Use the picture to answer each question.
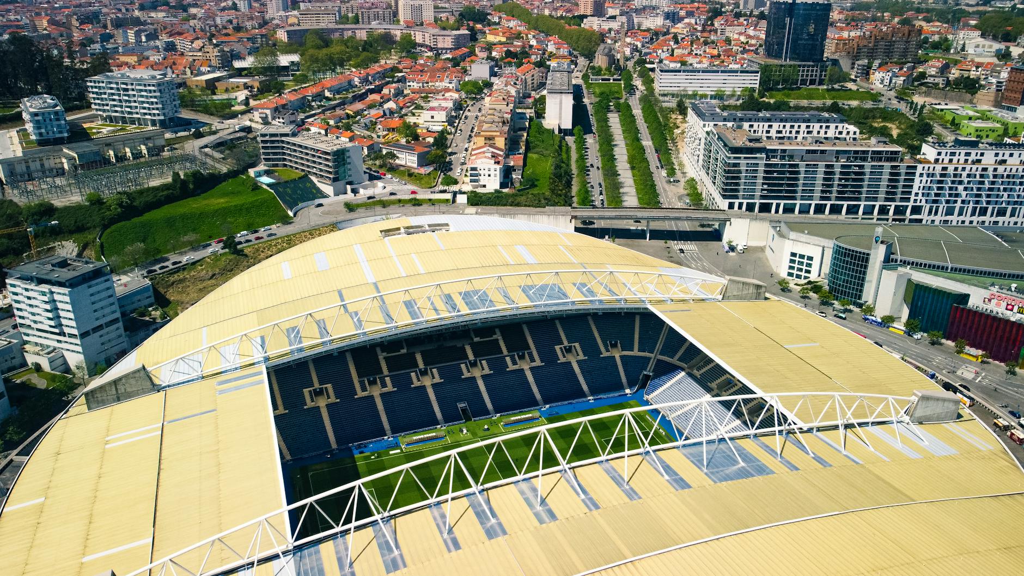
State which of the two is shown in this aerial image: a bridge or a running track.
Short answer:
bridge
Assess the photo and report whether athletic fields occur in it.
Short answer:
Yes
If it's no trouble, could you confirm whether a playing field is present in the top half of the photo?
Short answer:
No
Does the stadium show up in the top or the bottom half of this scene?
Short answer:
bottom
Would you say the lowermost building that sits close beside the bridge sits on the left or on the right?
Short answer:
right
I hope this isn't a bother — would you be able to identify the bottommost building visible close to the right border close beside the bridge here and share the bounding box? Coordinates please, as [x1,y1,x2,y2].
[766,215,1024,374]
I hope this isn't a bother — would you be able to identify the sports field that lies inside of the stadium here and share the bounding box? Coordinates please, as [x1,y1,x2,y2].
[288,400,674,534]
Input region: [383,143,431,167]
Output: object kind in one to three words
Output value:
building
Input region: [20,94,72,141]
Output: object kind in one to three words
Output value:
building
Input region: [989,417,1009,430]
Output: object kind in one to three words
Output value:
vehicle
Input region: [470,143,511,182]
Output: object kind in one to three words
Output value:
house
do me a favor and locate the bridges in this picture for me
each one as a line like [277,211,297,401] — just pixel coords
[572,207,729,239]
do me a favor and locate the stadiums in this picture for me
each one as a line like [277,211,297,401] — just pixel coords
[0,213,1024,576]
